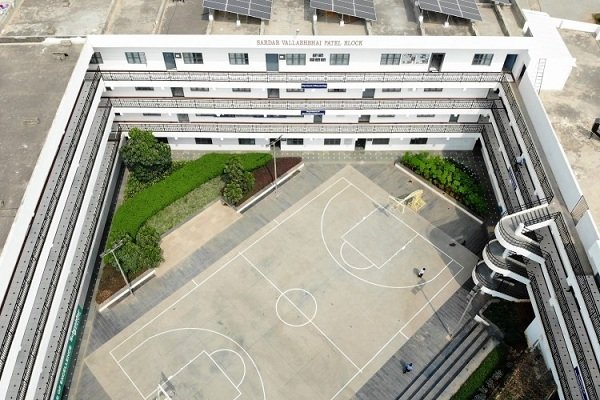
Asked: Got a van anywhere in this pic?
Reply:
No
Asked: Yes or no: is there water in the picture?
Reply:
No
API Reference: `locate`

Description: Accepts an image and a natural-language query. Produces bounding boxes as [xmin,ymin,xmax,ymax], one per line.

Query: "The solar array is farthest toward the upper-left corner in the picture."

[203,0,283,32]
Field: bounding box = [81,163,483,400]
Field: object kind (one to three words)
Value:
basketball court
